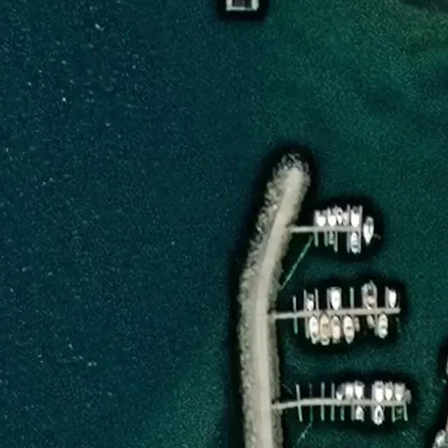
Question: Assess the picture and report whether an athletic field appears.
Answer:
No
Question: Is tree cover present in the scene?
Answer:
No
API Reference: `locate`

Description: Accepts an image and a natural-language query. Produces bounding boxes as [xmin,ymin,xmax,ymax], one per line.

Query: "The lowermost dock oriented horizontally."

[278,382,407,422]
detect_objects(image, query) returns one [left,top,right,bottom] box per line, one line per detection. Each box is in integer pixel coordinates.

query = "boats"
[376,381,384,403]
[346,382,354,400]
[317,212,325,227]
[328,211,336,227]
[386,382,393,401]
[351,232,358,253]
[434,429,446,448]
[336,207,343,225]
[344,315,354,344]
[364,217,374,245]
[329,230,334,245]
[309,317,318,343]
[364,282,376,309]
[331,317,341,343]
[355,381,364,400]
[395,383,404,402]
[336,386,343,400]
[351,206,360,228]
[378,313,388,338]
[307,294,314,311]
[342,210,348,226]
[389,289,397,308]
[331,287,341,310]
[404,390,411,404]
[367,315,375,329]
[397,407,403,420]
[374,405,383,425]
[320,314,330,345]
[356,406,364,422]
